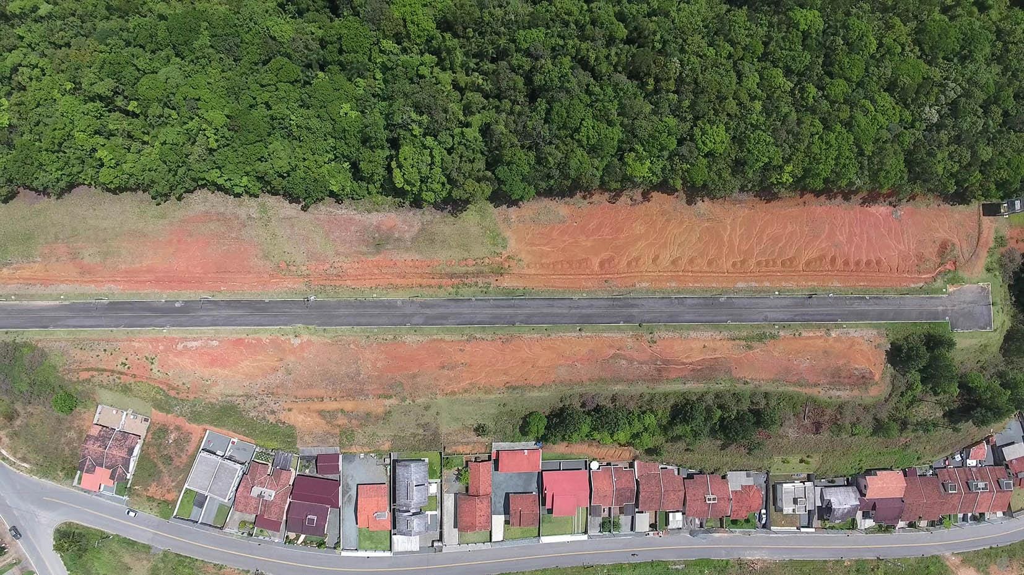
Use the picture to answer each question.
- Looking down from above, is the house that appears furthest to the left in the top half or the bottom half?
bottom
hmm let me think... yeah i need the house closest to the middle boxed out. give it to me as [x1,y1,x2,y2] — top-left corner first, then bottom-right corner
[492,441,542,473]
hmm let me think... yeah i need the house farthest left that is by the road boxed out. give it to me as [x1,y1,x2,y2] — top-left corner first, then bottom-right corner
[79,425,143,492]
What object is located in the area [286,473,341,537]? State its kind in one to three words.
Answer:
house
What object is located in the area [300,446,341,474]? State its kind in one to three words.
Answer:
shed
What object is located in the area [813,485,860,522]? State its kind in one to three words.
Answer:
house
